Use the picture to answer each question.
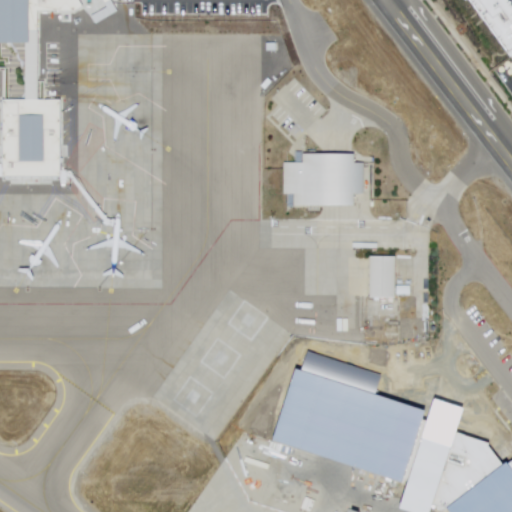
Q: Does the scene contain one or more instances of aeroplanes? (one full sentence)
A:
Yes, you can see an aeroplane in this photo.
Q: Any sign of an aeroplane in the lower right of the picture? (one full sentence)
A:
No, I can find no aeroplane in the lower right of the picture.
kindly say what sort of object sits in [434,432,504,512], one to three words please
building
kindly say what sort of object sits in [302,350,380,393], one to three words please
hangar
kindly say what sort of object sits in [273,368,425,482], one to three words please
hangar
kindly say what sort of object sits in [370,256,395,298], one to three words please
building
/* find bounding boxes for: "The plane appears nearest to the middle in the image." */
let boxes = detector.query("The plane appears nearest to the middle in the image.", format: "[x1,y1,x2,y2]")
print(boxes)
[86,214,143,277]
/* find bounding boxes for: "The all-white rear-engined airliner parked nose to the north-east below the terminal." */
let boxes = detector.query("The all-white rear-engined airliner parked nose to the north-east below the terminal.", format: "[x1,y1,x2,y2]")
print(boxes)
[18,222,61,280]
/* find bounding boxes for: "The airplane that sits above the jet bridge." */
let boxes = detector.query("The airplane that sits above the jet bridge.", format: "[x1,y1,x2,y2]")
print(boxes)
[99,104,150,141]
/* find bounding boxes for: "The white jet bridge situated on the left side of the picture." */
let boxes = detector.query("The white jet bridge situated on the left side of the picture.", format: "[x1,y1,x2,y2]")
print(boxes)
[61,170,114,224]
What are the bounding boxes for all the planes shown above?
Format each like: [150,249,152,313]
[18,222,61,280]
[86,214,143,277]
[99,104,150,141]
